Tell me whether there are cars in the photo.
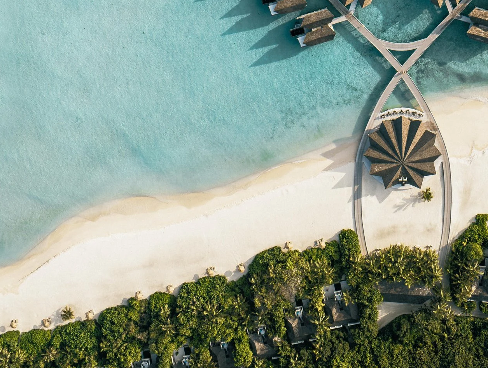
No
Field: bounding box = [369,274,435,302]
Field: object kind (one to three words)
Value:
building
